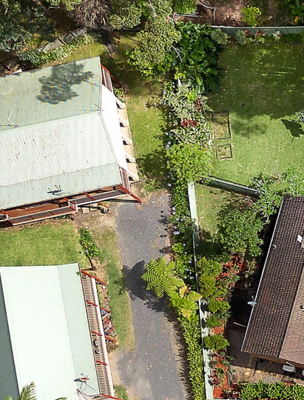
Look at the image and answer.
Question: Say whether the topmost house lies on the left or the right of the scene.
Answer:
left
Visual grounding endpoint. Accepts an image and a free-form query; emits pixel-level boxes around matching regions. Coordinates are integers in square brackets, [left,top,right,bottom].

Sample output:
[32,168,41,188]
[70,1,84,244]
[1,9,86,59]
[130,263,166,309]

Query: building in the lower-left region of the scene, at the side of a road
[0,262,128,400]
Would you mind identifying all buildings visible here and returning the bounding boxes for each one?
[0,55,146,236]
[240,197,304,365]
[0,262,128,400]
